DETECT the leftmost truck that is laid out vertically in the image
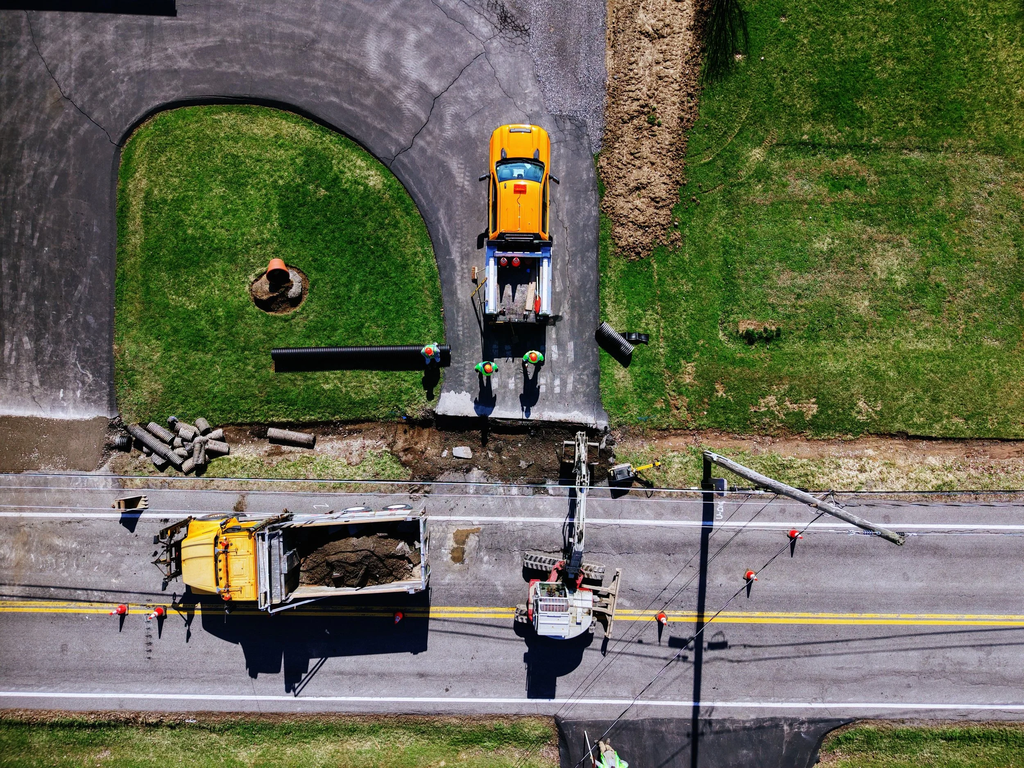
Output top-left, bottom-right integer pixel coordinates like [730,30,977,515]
[478,121,561,327]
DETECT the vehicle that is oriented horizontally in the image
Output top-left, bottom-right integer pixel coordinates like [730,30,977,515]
[149,501,435,620]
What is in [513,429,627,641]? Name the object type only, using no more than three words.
work vehicle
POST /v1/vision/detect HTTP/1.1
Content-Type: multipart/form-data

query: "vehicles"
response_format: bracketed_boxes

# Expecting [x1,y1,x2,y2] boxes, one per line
[478,121,561,327]
[513,429,627,641]
[149,501,435,620]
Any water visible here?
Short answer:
No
